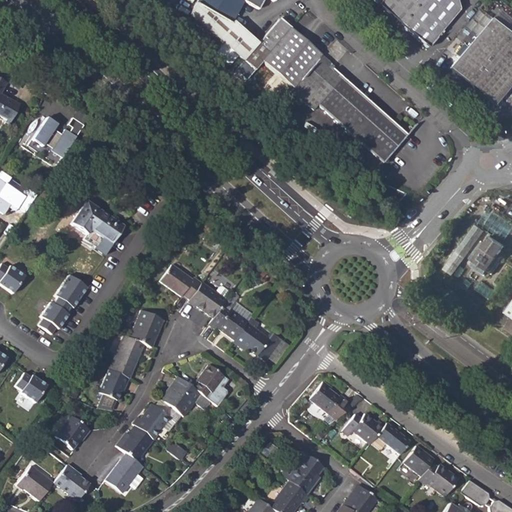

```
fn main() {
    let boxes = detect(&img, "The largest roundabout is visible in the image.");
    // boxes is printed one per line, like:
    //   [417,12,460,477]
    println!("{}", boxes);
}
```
[309,234,400,325]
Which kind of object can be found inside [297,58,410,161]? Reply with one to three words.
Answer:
building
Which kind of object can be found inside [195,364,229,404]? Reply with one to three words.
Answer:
house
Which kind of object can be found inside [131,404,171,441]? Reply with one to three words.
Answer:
house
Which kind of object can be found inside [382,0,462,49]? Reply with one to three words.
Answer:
building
